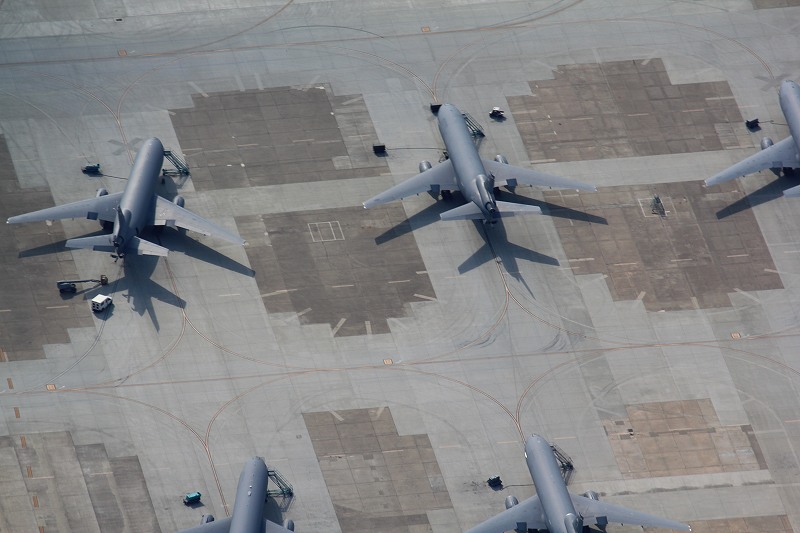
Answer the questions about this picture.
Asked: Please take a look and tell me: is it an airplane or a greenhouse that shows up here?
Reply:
airplane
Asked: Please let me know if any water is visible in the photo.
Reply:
No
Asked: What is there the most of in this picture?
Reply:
paved ground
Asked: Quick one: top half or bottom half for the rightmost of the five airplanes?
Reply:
top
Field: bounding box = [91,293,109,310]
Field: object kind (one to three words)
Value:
vehicle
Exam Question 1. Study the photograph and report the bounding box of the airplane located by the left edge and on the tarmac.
[8,138,244,262]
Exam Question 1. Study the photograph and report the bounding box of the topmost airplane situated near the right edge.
[705,82,800,199]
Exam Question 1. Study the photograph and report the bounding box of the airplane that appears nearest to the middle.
[363,104,597,228]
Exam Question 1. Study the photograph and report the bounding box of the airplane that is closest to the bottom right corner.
[466,435,691,533]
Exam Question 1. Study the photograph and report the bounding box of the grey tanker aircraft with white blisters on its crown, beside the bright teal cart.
[184,458,295,533]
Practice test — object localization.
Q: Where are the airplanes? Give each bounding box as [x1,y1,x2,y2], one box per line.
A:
[8,138,244,262]
[184,458,295,533]
[705,82,800,199]
[363,104,597,228]
[466,435,691,533]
